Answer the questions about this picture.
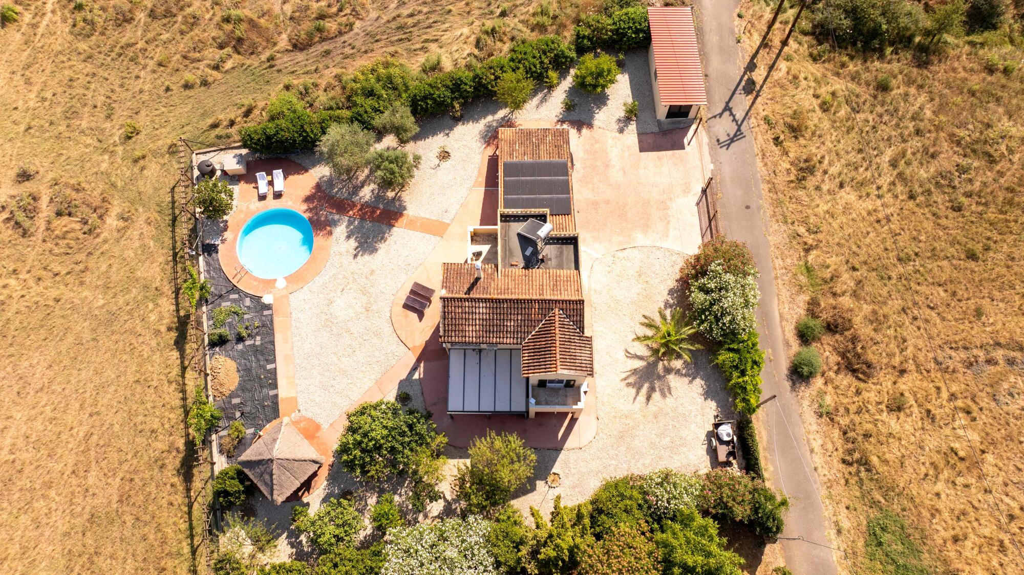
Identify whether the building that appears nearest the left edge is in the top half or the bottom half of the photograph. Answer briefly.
top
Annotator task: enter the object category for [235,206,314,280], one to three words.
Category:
swimming pool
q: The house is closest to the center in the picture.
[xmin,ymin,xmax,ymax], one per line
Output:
[436,127,595,413]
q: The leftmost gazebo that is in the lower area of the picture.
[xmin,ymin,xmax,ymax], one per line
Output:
[235,418,327,506]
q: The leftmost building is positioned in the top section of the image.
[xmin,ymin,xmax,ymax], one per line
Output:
[220,148,246,175]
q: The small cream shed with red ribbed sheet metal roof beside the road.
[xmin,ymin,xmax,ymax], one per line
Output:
[648,5,707,131]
